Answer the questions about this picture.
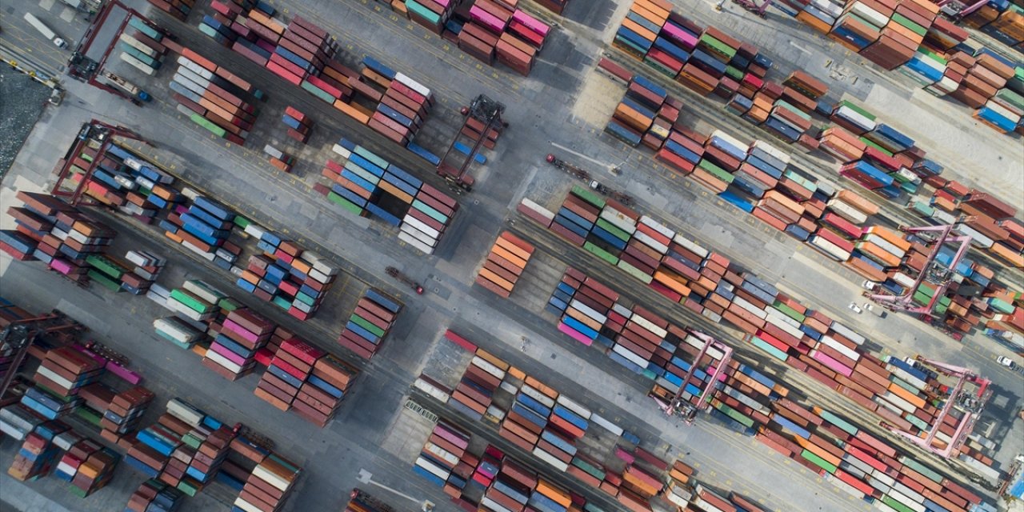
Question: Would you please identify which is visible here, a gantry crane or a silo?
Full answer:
This aerial view contains a gantry crane.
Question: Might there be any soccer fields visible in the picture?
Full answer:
No, there is no soccer field in the image.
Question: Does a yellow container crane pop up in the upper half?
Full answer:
No, there is no yellow container crane in the upper half.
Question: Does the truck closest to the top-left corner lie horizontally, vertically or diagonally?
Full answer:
The truck closest to the top-left corner is oriented diagonally.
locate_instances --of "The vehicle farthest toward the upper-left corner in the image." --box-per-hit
[24,11,71,53]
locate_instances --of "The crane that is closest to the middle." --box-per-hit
[431,88,512,196]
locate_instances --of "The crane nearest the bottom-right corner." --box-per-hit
[877,354,993,461]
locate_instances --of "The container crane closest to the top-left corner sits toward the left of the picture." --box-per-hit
[59,0,179,108]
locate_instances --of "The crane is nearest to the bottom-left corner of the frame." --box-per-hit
[0,307,92,409]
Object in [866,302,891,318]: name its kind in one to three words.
vehicle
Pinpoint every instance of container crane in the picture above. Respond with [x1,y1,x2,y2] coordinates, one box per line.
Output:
[860,222,977,315]
[59,0,179,108]
[431,88,512,196]
[43,116,163,222]
[877,354,993,461]
[0,307,92,409]
[737,0,779,20]
[642,324,738,428]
